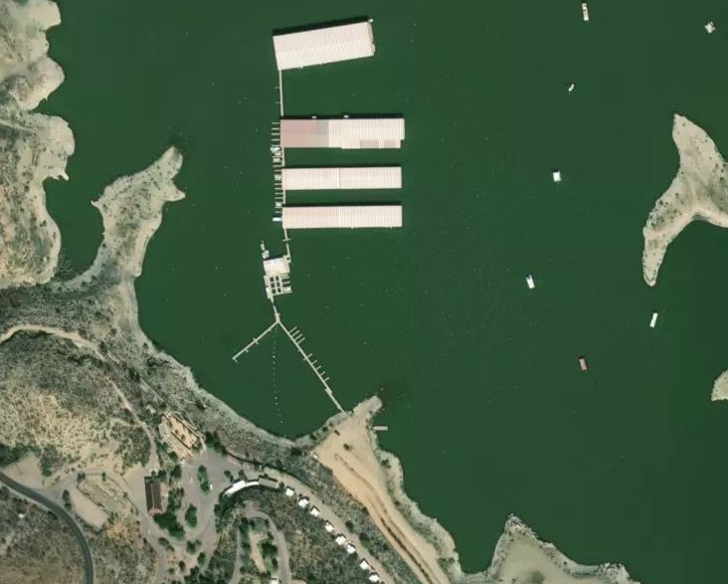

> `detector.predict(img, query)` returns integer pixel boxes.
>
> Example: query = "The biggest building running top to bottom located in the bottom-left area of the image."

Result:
[143,478,163,513]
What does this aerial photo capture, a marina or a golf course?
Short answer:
marina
